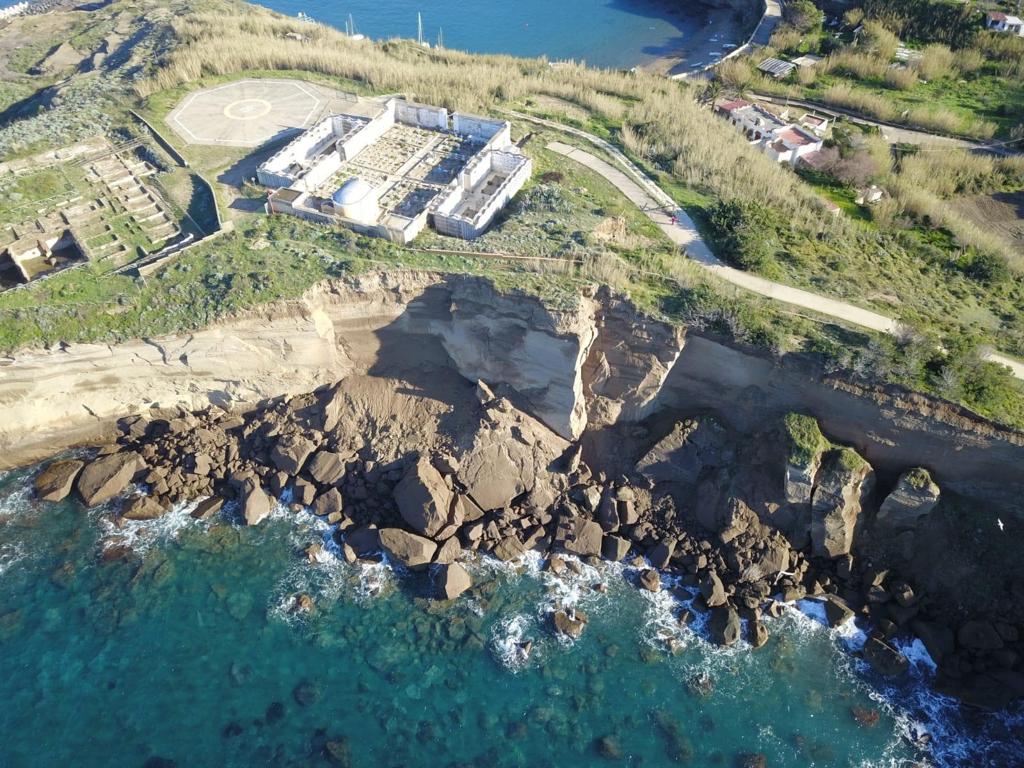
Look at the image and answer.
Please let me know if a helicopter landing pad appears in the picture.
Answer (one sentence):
Yes, there is a helicopter landing pad in the image.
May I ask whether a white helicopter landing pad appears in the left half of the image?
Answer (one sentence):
Yes, the scene does show a white helicopter landing pad in the left half of the image.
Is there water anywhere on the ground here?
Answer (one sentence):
Yes, water can be seen from above here.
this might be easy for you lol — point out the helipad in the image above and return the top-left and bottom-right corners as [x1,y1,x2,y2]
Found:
[164,77,329,147]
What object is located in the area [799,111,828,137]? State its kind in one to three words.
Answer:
building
